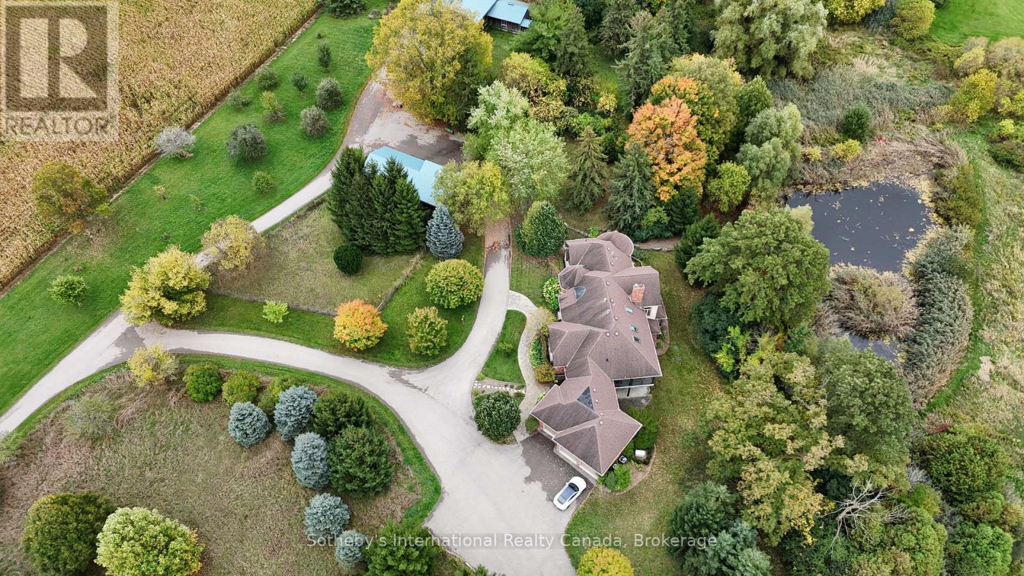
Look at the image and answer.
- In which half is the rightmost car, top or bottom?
bottom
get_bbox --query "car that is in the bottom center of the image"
[552,471,589,509]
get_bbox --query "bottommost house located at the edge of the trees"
[530,230,668,476]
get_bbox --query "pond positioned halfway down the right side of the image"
[783,179,934,367]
